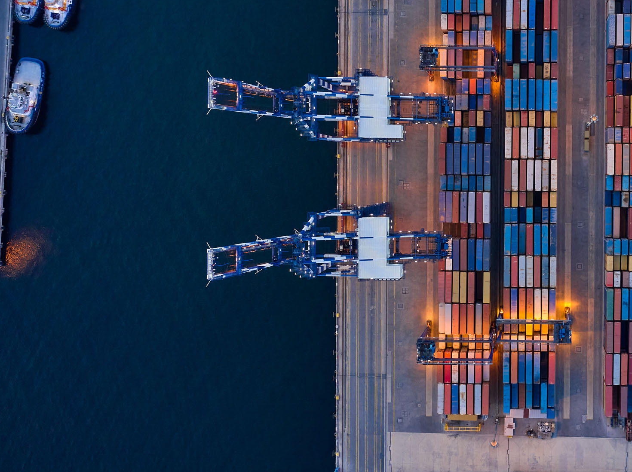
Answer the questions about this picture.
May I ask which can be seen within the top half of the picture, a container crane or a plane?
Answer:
container crane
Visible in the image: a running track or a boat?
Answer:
boat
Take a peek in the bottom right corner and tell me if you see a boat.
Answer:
No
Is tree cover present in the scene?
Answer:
No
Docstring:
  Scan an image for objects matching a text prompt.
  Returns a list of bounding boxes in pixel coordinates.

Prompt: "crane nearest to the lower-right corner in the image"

[496,303,573,348]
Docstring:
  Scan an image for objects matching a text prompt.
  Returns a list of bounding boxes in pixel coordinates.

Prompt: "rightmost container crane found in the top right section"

[420,42,499,82]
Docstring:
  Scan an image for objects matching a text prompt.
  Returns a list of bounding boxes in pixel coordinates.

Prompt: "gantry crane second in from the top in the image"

[206,63,456,151]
